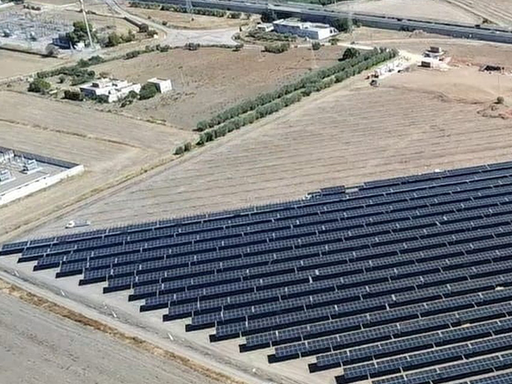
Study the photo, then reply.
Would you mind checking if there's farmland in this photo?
Yes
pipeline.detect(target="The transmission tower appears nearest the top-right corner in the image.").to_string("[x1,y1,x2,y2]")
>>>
[342,4,355,32]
